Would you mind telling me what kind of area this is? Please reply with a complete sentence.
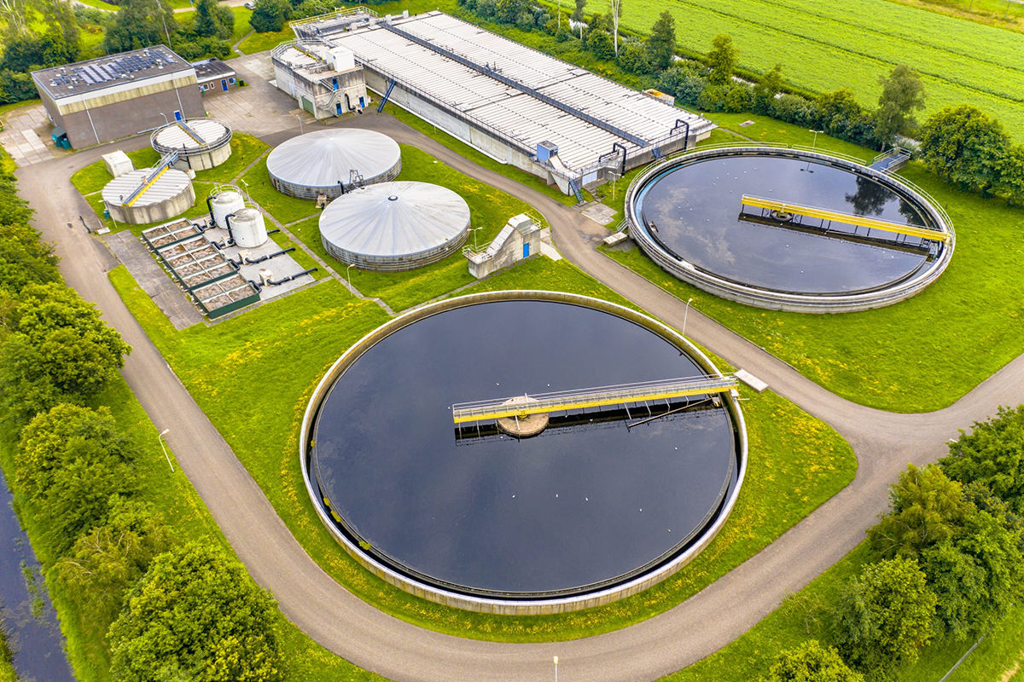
The area seen from above is an industrial area.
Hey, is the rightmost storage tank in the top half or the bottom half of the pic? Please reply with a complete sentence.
Seen from above, the rightmost storage tank lies in the top half of the view.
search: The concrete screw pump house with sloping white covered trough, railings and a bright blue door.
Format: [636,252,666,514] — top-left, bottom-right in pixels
[465,212,541,278]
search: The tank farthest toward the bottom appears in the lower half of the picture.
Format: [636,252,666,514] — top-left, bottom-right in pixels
[297,291,748,617]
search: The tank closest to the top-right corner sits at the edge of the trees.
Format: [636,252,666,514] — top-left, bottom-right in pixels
[618,140,959,318]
